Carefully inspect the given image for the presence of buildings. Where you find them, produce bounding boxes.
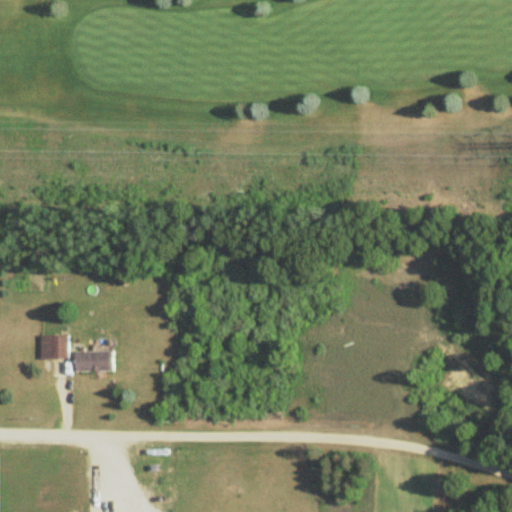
[73,352,114,378]
[41,335,70,360]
